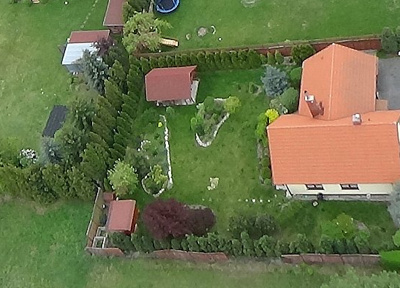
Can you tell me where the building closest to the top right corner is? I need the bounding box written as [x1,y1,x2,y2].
[272,40,400,201]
